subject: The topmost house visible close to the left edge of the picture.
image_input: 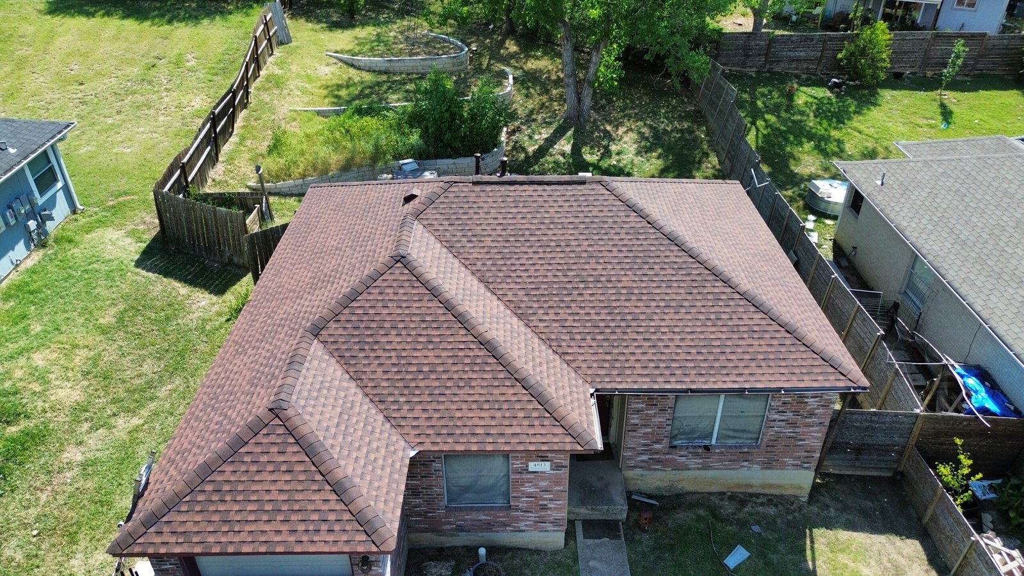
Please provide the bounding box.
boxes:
[0,121,86,282]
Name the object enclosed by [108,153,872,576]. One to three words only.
house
